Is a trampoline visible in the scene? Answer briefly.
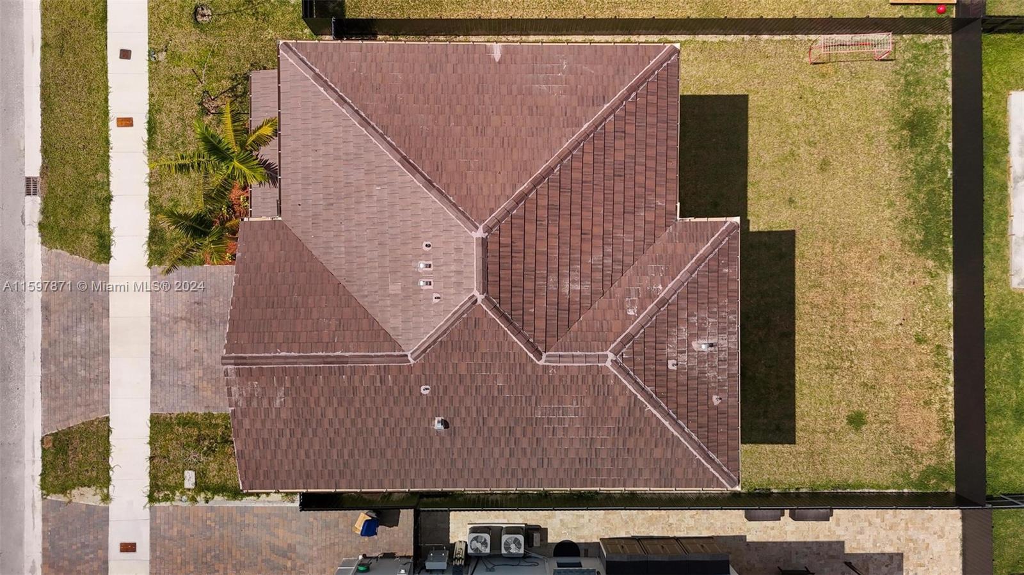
No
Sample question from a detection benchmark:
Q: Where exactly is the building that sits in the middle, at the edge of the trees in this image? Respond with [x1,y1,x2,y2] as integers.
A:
[220,39,743,494]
